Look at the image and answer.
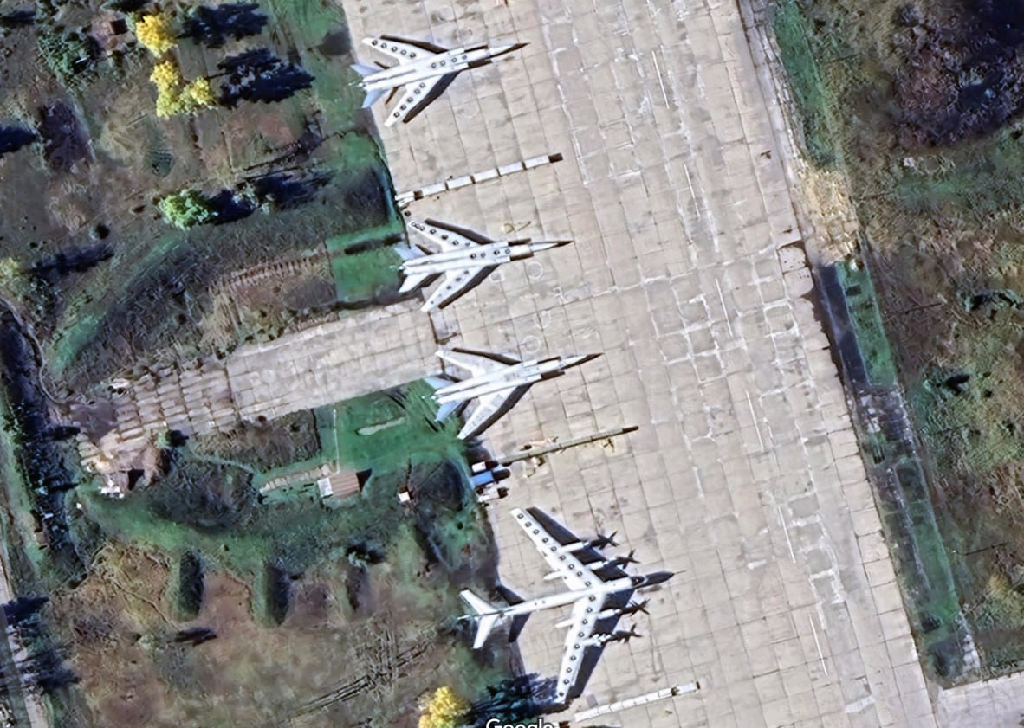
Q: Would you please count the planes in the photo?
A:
4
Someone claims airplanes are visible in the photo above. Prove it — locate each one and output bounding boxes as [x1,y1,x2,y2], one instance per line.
[390,220,555,311]
[461,510,660,703]
[424,348,585,438]
[351,36,511,125]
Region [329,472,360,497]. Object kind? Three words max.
shed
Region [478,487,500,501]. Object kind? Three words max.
vehicle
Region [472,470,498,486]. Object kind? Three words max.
vehicle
